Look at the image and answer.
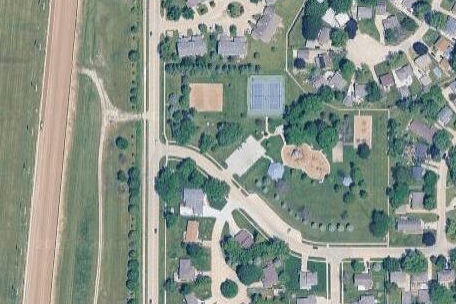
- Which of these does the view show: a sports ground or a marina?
sports ground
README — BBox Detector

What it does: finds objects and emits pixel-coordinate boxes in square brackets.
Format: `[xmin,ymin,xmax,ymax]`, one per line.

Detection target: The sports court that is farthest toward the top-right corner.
[353,115,371,149]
